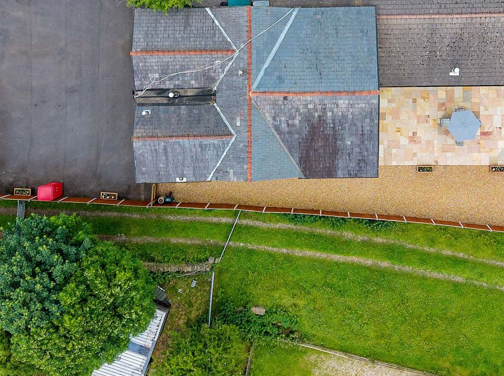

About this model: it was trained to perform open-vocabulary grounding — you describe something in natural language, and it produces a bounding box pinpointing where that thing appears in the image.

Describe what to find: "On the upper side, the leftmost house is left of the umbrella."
[130,5,380,184]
